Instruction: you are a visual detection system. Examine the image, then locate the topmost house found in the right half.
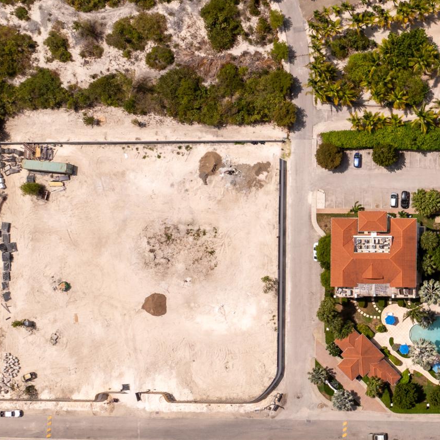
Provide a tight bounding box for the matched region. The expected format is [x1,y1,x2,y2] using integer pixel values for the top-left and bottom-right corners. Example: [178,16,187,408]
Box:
[331,212,419,299]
